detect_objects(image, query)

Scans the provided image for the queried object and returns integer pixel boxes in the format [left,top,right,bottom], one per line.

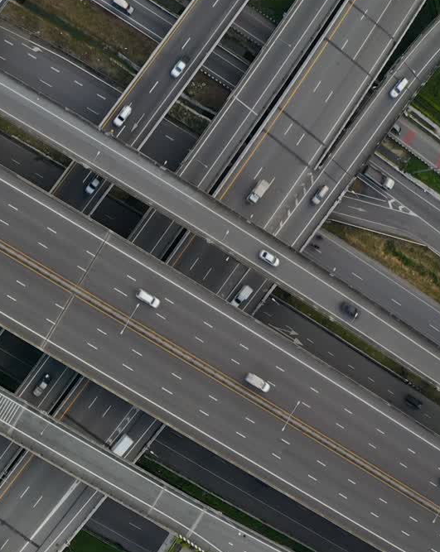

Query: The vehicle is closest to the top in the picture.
[108,0,135,17]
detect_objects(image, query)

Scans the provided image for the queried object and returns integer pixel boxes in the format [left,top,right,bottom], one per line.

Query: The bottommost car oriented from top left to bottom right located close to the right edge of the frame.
[403,393,424,410]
